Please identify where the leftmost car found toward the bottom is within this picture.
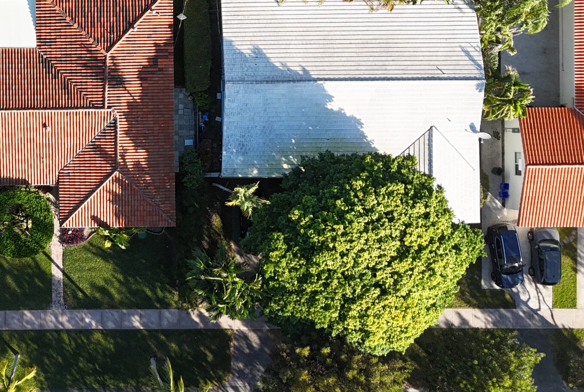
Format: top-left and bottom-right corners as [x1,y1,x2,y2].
[492,223,530,286]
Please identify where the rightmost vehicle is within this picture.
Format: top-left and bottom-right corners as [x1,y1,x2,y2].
[531,228,566,284]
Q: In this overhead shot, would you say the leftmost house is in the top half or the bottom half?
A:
top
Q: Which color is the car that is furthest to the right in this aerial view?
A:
black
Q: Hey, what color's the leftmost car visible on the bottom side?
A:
black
